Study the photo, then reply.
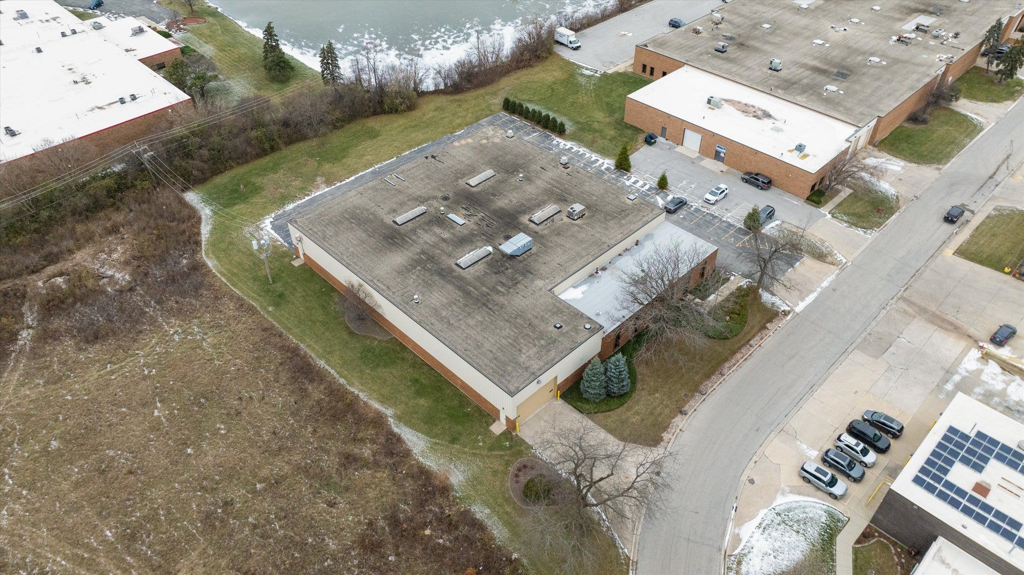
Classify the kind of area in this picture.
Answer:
industrial area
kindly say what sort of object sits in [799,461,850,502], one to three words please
car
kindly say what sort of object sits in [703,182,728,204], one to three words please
car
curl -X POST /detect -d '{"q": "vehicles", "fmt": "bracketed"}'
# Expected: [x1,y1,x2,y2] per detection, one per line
[86,0,106,10]
[548,21,580,48]
[816,444,866,484]
[739,171,773,190]
[762,203,776,226]
[799,461,850,502]
[830,429,879,468]
[859,406,907,441]
[703,182,728,204]
[667,15,684,26]
[942,206,964,224]
[842,414,894,455]
[664,196,690,215]
[988,322,1014,348]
